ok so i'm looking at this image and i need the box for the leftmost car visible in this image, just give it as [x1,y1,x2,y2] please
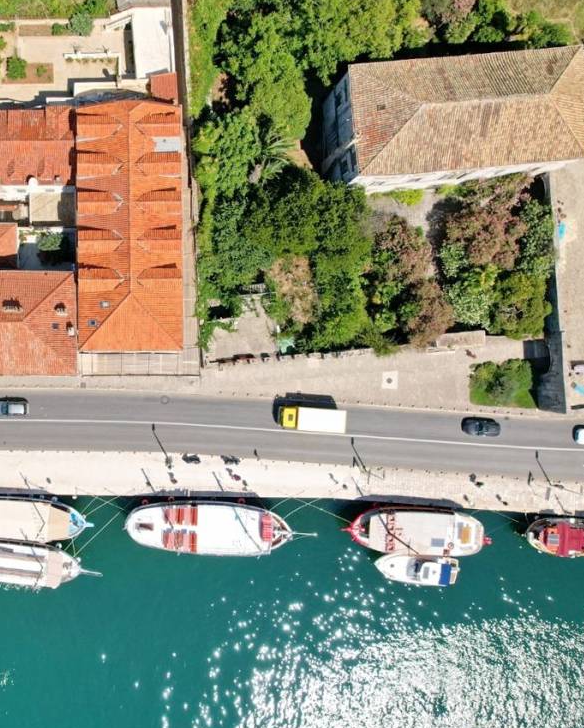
[0,398,29,417]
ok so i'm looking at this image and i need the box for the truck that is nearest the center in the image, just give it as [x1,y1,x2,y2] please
[277,405,348,433]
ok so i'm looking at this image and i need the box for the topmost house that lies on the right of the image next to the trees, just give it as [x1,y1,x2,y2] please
[326,44,584,194]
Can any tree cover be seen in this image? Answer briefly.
Yes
